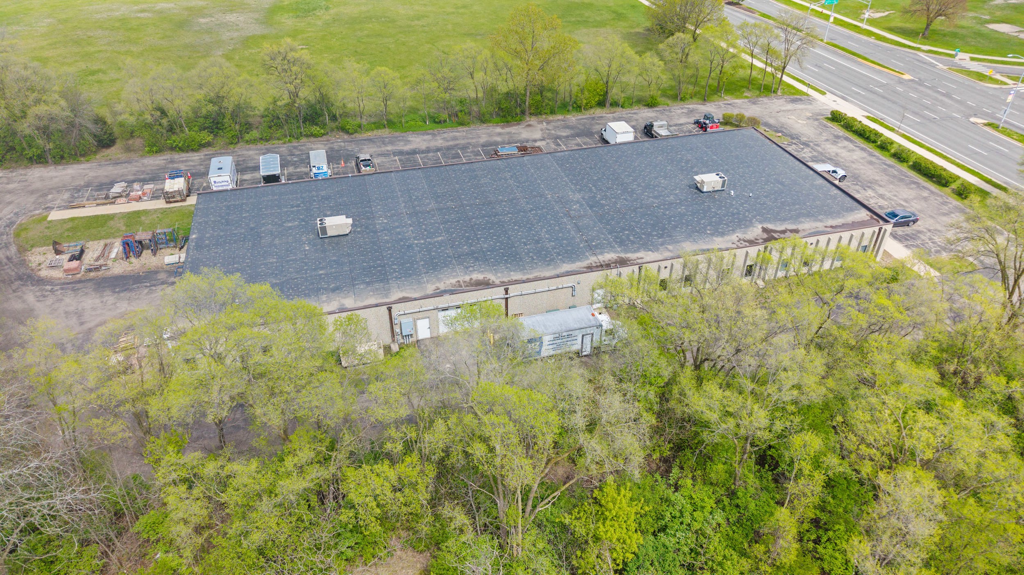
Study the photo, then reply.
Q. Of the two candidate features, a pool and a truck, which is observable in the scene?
truck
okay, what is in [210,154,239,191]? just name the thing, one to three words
trailer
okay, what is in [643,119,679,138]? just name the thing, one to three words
vehicle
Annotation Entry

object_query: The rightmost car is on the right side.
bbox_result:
[883,208,922,227]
